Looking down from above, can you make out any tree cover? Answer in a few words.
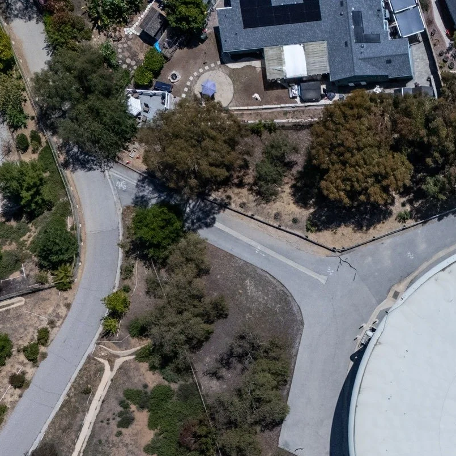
Yes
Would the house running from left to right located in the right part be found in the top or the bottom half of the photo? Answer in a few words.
top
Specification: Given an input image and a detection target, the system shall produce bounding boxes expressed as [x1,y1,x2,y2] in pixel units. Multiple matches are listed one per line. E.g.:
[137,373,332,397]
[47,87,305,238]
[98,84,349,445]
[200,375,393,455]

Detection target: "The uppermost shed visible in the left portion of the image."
[139,7,174,40]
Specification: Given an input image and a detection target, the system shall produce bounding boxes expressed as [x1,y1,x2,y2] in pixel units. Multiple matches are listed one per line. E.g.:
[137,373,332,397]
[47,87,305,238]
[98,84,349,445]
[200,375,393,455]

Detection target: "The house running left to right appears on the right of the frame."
[214,0,415,87]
